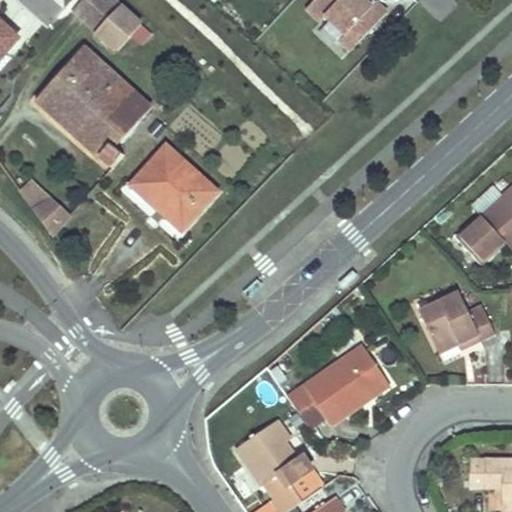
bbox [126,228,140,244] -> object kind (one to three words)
car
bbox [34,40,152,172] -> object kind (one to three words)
house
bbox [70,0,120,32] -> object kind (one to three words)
house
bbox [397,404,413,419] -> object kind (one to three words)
car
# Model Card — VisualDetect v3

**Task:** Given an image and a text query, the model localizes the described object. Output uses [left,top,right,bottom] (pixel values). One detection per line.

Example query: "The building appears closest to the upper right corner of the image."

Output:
[304,0,389,62]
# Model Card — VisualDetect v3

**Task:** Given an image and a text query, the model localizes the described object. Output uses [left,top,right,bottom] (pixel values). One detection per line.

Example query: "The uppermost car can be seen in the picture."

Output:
[150,119,165,136]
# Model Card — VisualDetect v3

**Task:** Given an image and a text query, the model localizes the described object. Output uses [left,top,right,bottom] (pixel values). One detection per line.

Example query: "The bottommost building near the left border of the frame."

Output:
[19,178,72,238]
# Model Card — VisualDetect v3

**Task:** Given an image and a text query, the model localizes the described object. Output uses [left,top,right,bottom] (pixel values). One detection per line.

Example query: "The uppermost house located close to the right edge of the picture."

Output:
[458,184,512,264]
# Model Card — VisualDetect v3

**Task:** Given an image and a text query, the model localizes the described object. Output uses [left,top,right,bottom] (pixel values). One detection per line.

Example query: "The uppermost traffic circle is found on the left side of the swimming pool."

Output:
[59,350,192,472]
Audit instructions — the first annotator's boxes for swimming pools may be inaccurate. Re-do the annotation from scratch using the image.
[256,380,278,406]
